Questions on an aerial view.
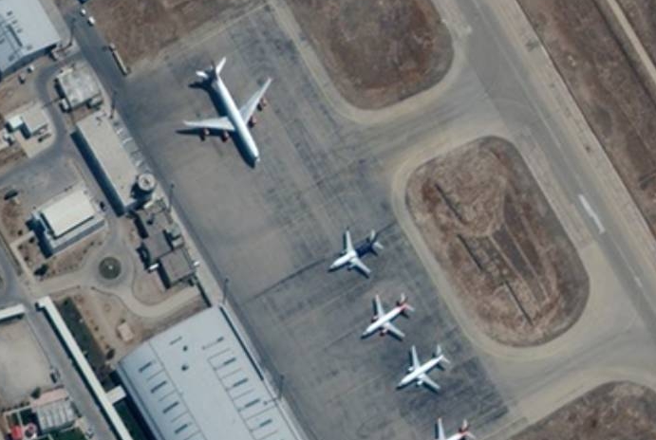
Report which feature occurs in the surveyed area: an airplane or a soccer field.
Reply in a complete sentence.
The one in the frame is an airplane.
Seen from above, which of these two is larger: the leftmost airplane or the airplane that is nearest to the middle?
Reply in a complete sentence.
The larger object is the leftmost airplane, with the airplane that is nearest to the middle being the smaller of the pair.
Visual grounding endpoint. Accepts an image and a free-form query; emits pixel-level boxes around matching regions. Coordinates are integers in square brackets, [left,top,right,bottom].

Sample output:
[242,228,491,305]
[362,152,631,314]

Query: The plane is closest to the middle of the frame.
[327,230,381,273]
